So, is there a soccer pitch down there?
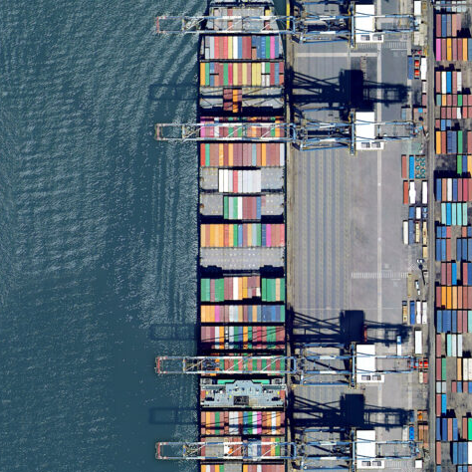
No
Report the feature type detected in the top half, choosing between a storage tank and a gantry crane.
gantry crane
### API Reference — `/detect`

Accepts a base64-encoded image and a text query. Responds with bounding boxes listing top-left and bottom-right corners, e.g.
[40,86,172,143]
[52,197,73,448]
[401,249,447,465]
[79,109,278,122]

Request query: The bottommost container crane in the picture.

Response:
[157,424,418,472]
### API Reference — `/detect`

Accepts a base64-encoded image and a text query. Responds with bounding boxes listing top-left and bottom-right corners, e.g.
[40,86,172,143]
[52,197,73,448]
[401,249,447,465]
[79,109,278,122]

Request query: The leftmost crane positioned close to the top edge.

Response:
[157,1,417,49]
